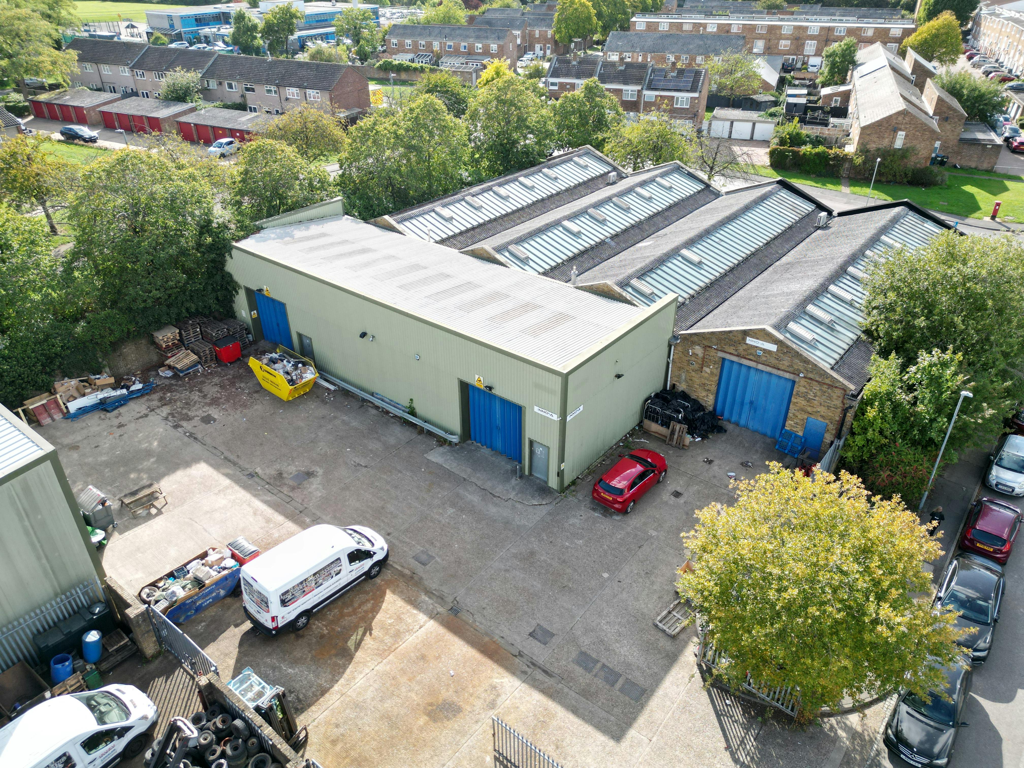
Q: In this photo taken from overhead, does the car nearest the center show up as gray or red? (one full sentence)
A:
The car nearest the center looks red in the image.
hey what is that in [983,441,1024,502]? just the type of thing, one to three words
car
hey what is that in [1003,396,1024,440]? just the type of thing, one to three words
car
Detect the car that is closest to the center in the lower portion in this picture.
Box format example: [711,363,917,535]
[590,451,666,516]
